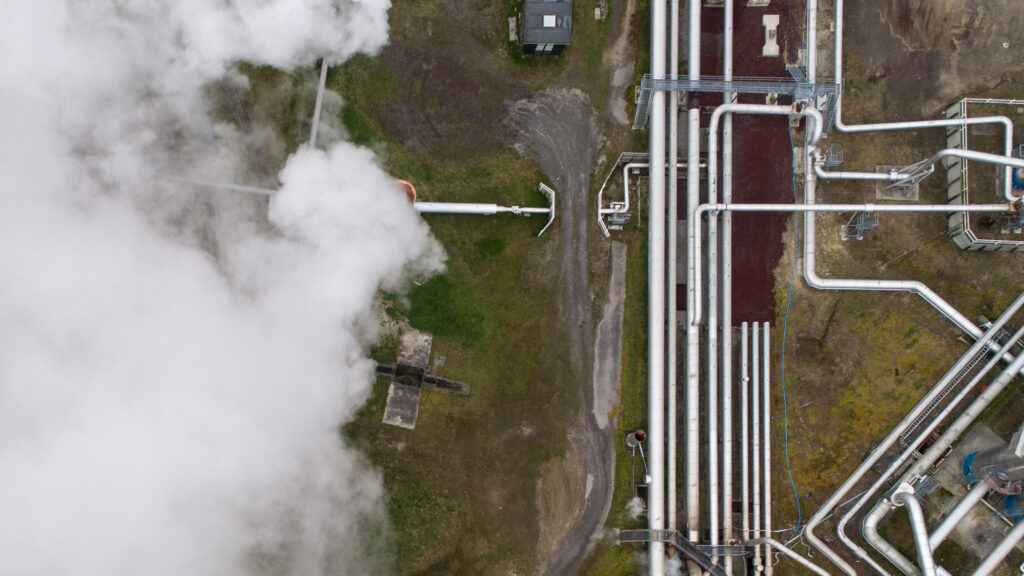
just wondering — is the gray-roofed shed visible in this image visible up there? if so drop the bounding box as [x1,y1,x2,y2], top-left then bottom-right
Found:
[524,0,572,54]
